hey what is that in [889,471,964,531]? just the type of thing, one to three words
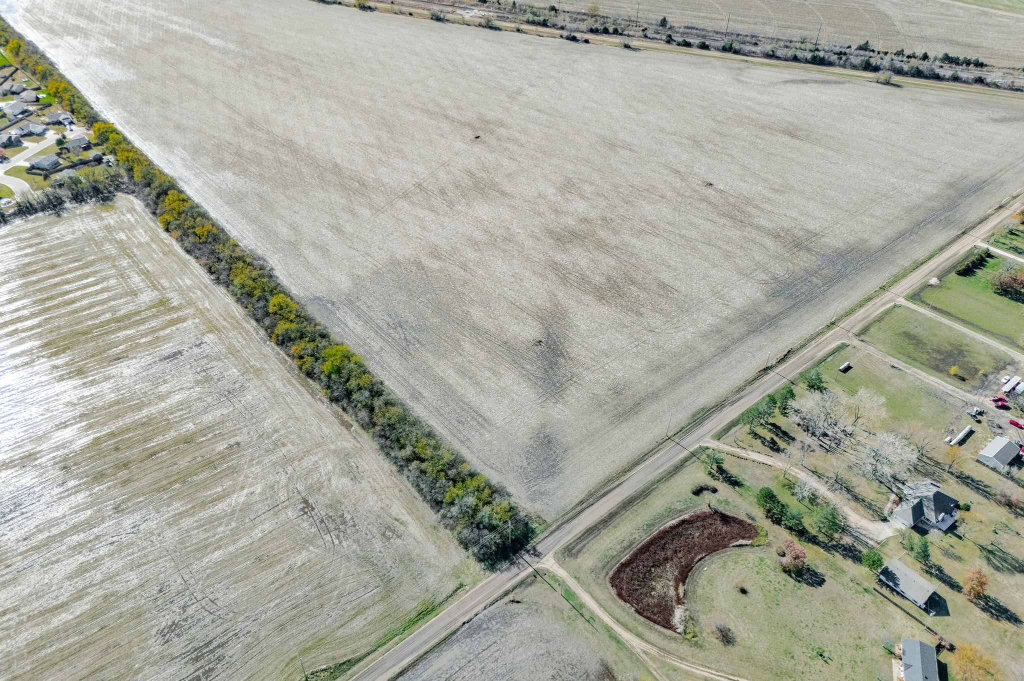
house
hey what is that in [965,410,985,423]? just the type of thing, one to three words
vehicle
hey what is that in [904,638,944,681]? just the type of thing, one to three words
house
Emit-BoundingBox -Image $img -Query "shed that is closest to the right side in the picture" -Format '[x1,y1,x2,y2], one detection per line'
[976,437,1020,475]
